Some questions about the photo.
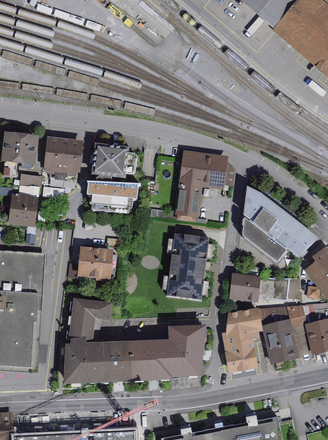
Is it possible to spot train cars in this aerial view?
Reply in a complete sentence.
Yes, there's a train car here.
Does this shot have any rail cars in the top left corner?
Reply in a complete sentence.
Yes, a rail car is visible in the top left corner.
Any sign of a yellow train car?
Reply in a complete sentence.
Yes, this view includes a yellow train car.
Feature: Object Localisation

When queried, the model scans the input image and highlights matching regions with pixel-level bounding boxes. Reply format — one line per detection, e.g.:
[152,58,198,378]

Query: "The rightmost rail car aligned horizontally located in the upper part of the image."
[124,103,156,116]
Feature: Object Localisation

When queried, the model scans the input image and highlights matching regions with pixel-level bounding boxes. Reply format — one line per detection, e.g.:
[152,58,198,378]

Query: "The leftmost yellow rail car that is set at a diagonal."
[106,3,124,20]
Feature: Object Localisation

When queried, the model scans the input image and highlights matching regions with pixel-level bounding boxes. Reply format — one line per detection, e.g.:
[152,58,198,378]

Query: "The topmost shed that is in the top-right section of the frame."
[245,0,294,28]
